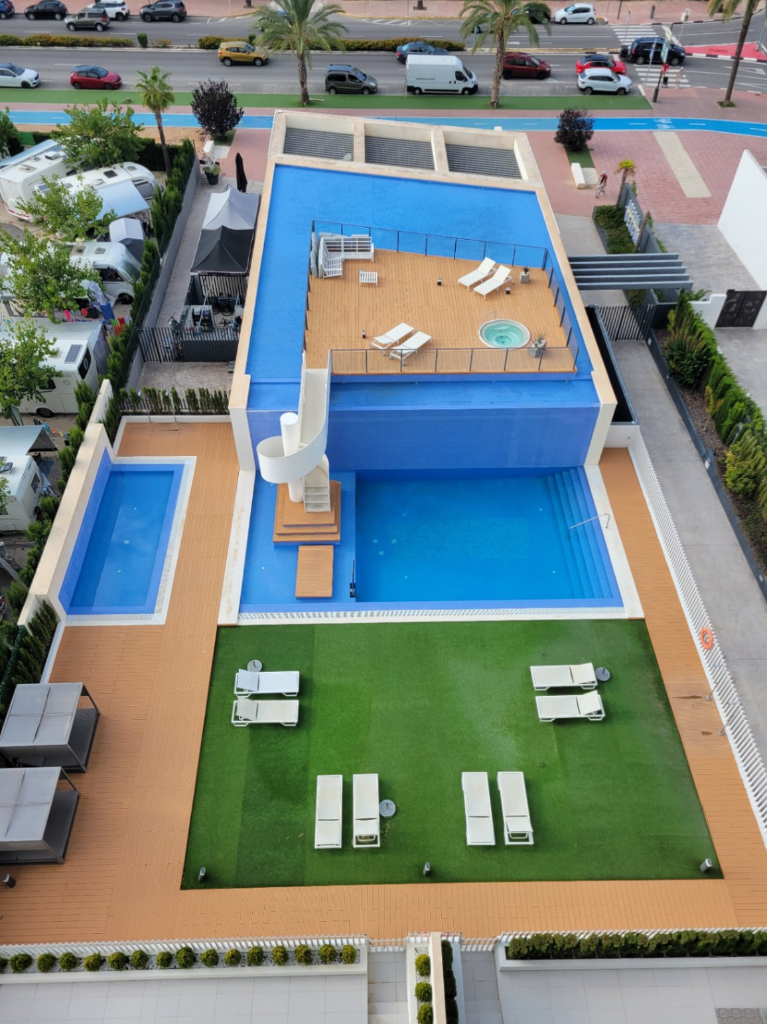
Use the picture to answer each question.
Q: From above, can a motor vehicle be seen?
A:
Yes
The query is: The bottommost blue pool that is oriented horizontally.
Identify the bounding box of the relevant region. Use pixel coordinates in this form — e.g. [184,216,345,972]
[218,467,645,625]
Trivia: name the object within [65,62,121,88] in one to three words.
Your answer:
car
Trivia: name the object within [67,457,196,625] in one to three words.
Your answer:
swimming pool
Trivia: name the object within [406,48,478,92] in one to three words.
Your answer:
van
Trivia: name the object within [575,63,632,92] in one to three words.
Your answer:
car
